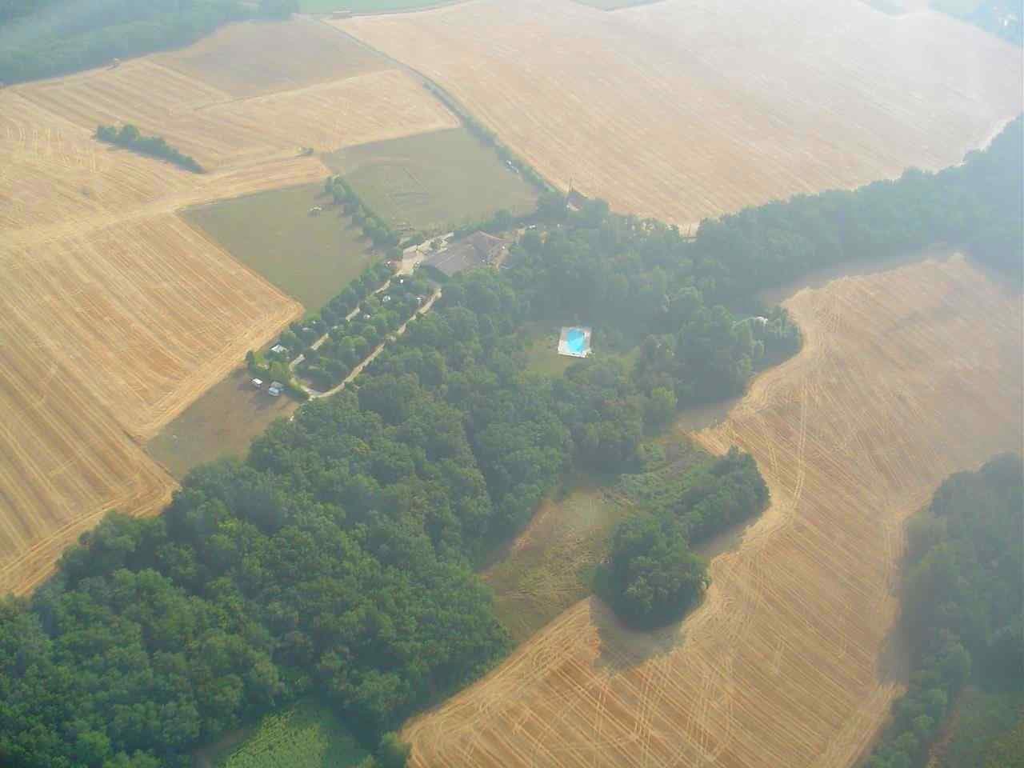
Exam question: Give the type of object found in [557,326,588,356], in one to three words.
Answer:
swimming pool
